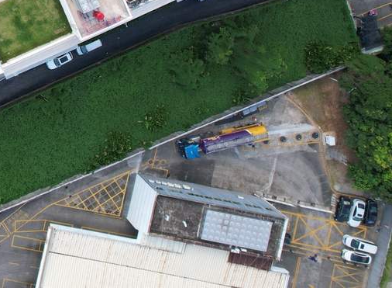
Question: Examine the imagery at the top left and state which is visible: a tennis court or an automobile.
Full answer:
You can see an automobile at the top left.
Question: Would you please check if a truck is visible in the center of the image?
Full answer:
Yes, I can see a truck in the center of the image.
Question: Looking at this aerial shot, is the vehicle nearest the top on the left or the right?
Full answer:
The vehicle nearest the top appears in the left half of the scene.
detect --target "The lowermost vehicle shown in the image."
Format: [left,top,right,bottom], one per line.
[342,248,375,269]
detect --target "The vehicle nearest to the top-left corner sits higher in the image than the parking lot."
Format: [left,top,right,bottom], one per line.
[45,51,75,69]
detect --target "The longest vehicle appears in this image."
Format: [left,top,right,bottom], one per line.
[183,118,280,162]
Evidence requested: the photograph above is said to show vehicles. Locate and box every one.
[348,199,367,229]
[333,194,352,224]
[45,51,75,69]
[364,198,381,228]
[342,248,375,269]
[183,118,280,162]
[73,36,107,58]
[344,234,382,257]
[283,224,295,254]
